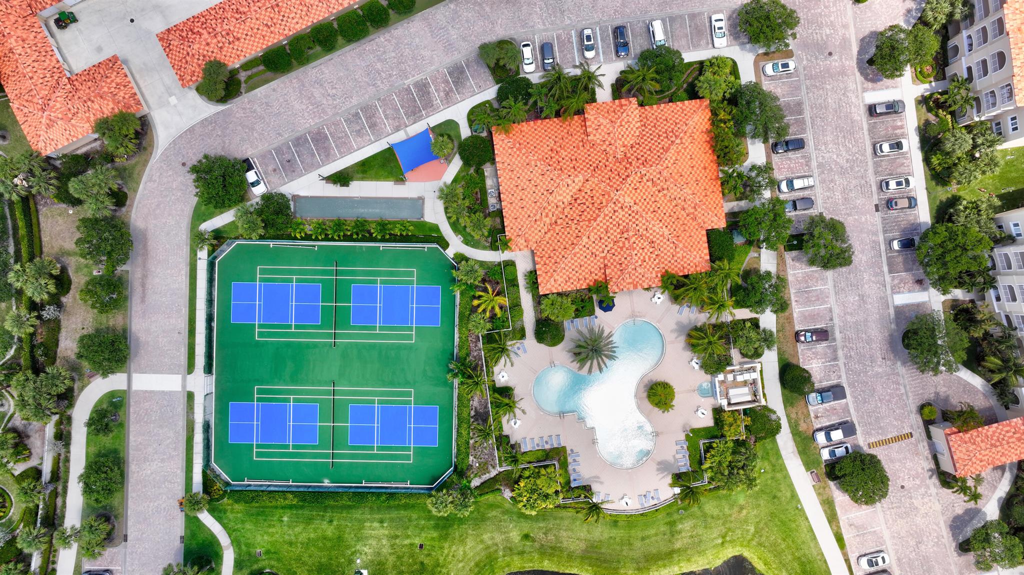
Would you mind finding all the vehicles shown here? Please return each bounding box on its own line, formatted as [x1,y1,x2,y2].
[241,157,269,196]
[869,99,903,116]
[649,18,667,49]
[541,40,556,72]
[857,550,890,568]
[813,423,855,443]
[818,443,852,460]
[614,24,630,58]
[795,328,829,344]
[581,27,597,60]
[778,176,814,194]
[782,197,815,213]
[762,59,796,77]
[771,138,806,155]
[885,196,917,210]
[806,385,847,406]
[881,176,913,192]
[520,39,535,74]
[710,14,727,48]
[888,236,919,250]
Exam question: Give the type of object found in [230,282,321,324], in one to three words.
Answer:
sports court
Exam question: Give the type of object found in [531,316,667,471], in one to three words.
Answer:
swimming pool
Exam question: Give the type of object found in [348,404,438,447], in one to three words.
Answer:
sports court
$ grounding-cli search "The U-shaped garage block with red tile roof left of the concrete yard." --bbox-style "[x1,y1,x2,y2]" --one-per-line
[0,0,149,155]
